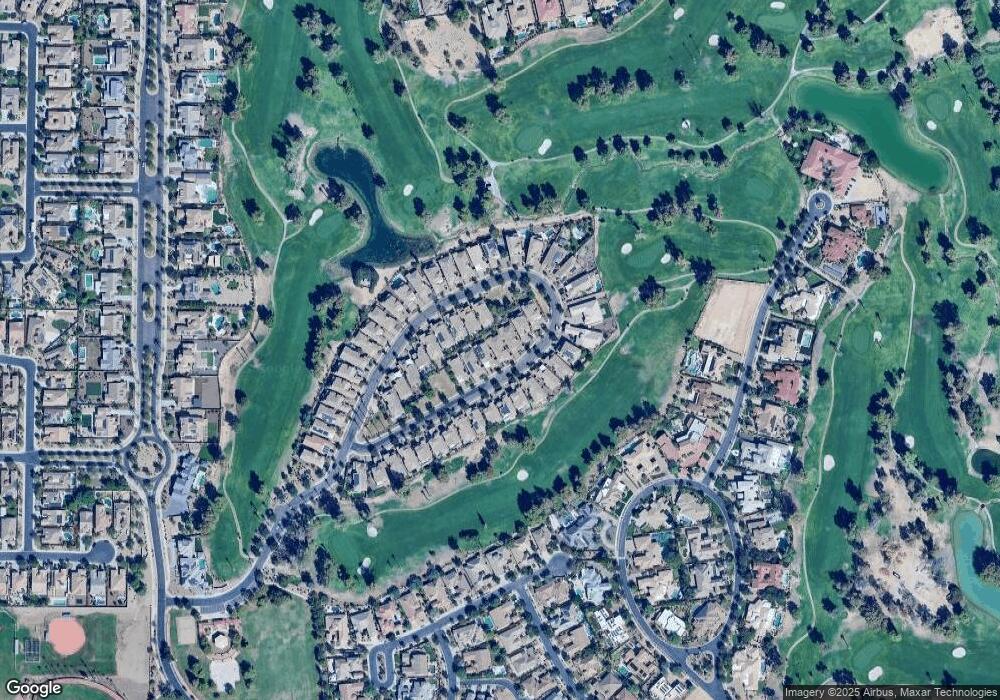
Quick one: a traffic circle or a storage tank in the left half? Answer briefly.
traffic circle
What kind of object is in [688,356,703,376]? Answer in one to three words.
swimming pool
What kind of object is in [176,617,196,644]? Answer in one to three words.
sports court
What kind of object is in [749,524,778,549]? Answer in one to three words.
house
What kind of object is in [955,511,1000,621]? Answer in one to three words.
pond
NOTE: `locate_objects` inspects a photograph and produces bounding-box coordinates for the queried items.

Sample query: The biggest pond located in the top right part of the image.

[796,83,951,192]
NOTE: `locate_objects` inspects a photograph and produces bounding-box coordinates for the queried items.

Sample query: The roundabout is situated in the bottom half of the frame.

[122,432,174,485]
